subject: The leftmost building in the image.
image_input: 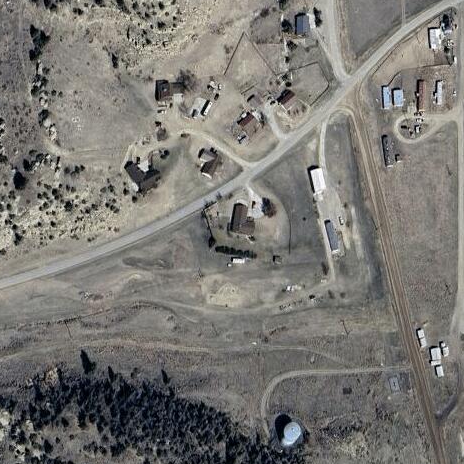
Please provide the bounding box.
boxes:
[125,160,161,190]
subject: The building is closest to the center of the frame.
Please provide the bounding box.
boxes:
[232,204,256,234]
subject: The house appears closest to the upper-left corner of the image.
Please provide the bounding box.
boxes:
[158,80,183,102]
